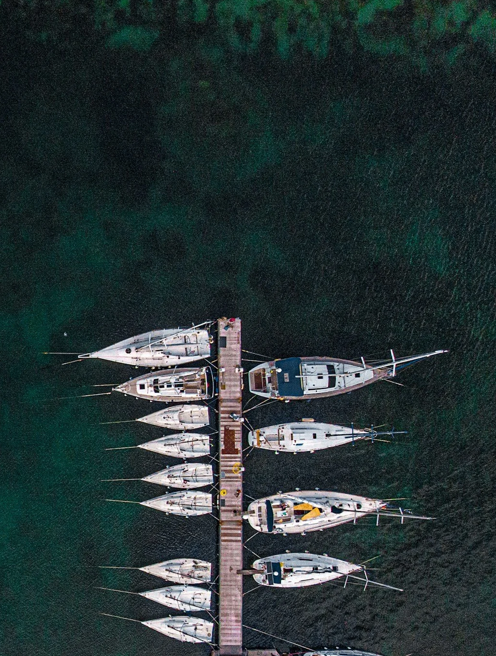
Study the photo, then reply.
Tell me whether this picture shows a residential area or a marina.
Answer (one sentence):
The picture captures a marina.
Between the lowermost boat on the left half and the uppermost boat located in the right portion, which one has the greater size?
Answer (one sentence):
The uppermost boat located in the right portion takes up more space than the lowermost boat on the left half.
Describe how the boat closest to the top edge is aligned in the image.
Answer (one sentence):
The boat closest to the top edge has been laid out horizontally relative to the frame.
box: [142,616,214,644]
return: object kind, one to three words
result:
boat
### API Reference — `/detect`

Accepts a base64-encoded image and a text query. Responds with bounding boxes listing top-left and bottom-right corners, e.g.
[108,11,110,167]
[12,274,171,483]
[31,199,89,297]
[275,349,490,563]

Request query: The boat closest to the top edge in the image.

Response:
[79,320,216,367]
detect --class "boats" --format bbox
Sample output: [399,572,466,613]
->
[115,366,214,401]
[142,464,214,488]
[137,433,210,458]
[139,558,211,584]
[248,421,413,451]
[142,616,214,644]
[249,551,407,591]
[79,320,216,367]
[139,491,211,516]
[243,349,449,400]
[138,585,211,612]
[244,488,437,532]
[137,405,209,429]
